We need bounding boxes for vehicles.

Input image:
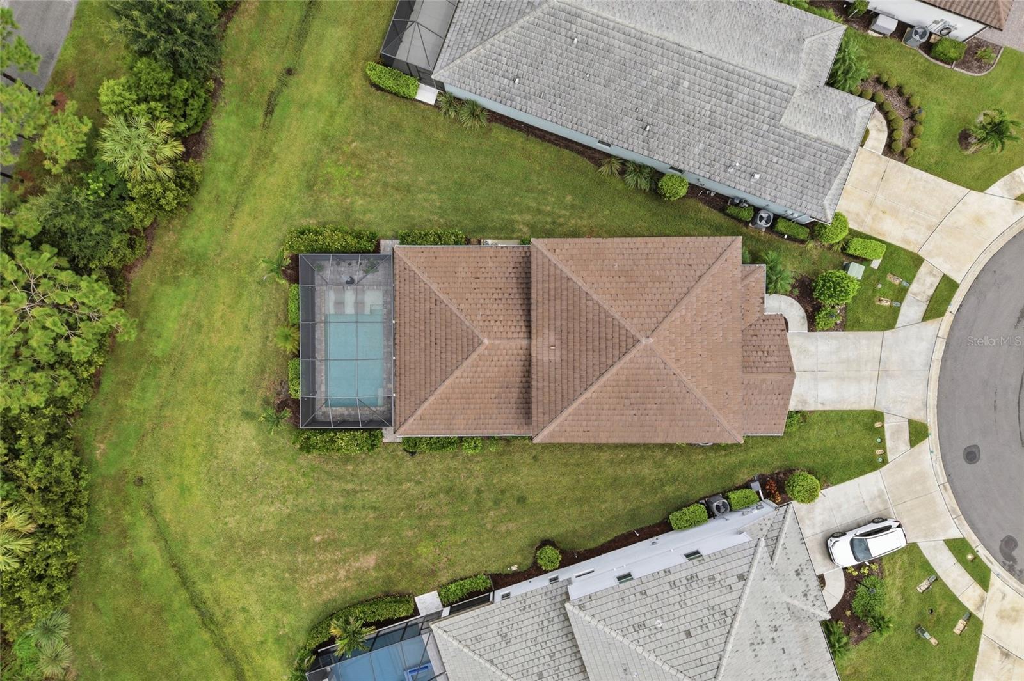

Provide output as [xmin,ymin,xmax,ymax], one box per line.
[825,516,911,568]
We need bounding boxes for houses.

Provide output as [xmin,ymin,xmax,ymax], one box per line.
[846,0,1016,43]
[392,236,797,445]
[432,0,878,226]
[428,499,842,681]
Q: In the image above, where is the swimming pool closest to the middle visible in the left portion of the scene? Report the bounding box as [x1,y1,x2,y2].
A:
[323,283,386,410]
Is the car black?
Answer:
No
